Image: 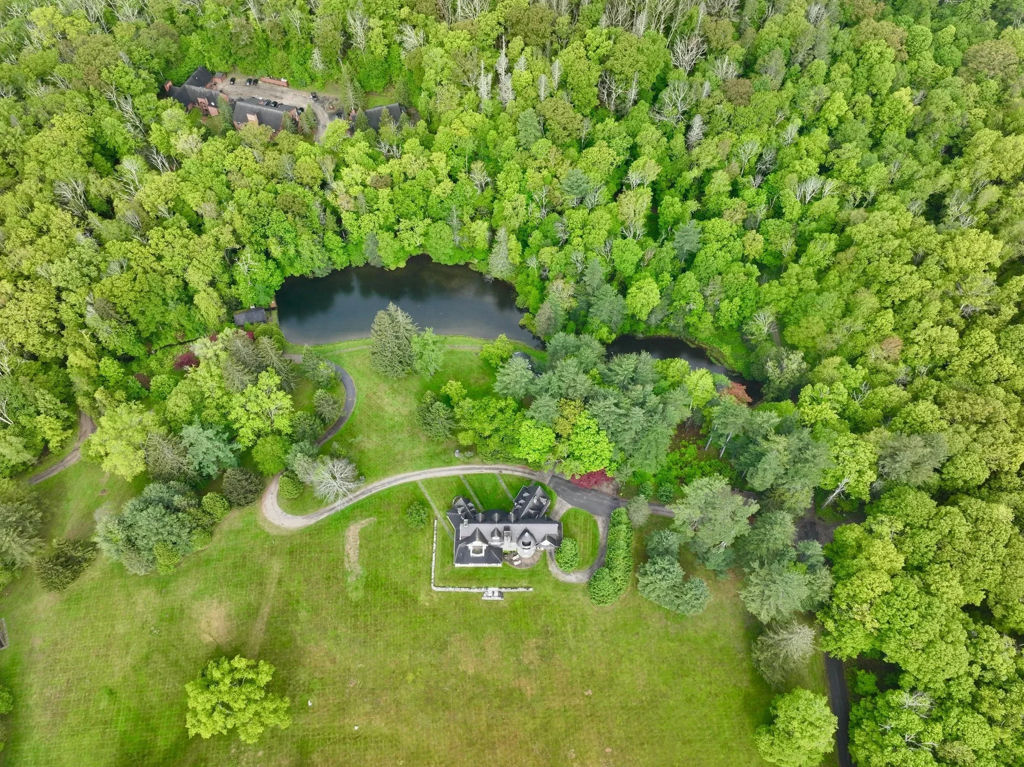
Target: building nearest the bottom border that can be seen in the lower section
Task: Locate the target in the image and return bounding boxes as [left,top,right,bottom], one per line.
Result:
[446,485,564,569]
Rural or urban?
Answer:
rural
